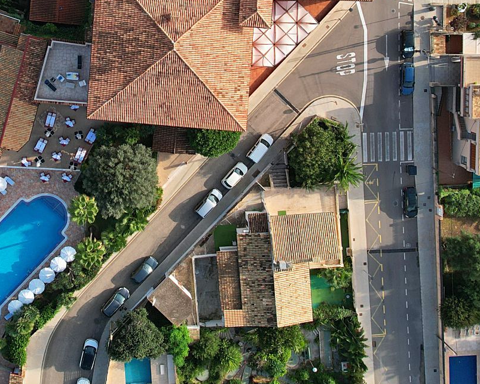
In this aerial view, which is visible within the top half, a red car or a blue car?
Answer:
blue car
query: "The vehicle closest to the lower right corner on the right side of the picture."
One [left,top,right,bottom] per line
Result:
[401,187,420,218]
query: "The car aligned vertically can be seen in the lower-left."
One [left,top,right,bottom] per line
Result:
[81,337,99,372]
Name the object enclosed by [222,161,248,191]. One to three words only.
car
